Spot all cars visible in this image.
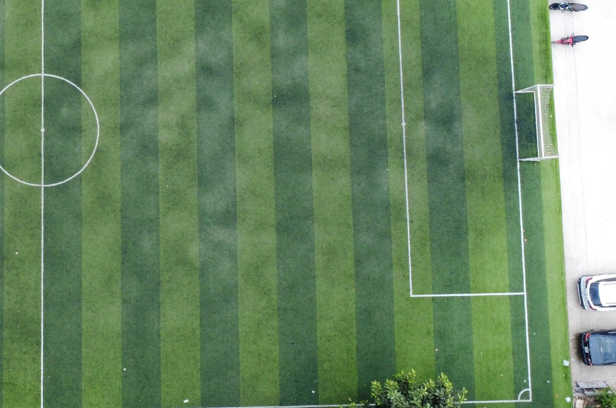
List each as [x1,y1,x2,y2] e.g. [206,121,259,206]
[578,328,616,365]
[576,271,616,309]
